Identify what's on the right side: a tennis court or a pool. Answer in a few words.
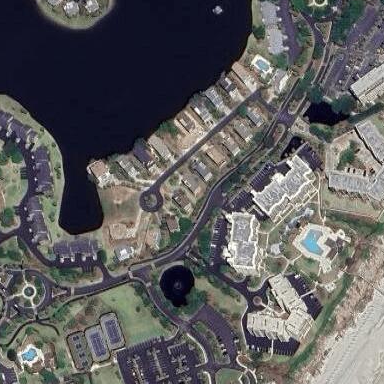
pool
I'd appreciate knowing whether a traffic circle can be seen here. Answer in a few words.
Yes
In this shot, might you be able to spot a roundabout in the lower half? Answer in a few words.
Yes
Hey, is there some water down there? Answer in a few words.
Yes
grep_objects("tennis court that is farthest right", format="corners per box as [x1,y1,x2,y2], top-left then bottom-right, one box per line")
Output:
[102,316,126,354]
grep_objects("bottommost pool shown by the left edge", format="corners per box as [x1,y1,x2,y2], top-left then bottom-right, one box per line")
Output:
[18,344,44,365]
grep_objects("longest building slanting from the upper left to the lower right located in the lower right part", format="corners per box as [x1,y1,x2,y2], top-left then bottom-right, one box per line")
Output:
[269,275,311,320]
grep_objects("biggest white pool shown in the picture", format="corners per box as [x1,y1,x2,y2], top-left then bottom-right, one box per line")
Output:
[293,223,348,273]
